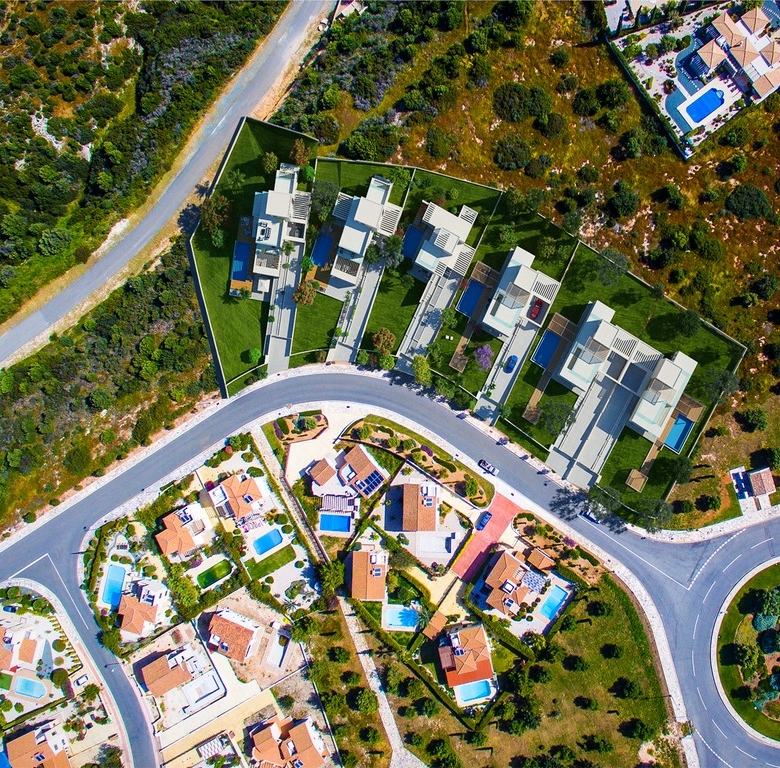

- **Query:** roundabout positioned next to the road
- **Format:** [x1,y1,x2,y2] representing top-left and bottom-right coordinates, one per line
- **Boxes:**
[711,557,780,746]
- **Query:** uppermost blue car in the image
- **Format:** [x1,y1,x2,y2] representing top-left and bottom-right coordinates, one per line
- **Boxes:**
[503,354,518,374]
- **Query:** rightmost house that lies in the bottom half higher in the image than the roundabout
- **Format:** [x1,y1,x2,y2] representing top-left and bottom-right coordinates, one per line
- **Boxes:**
[727,464,778,496]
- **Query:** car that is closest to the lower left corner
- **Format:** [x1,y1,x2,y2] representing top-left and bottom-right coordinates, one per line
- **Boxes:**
[71,673,91,687]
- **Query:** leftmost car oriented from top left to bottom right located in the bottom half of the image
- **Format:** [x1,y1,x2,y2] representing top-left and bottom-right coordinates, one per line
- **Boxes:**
[477,459,500,477]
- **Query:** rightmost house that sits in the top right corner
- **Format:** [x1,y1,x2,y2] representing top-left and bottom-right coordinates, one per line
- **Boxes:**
[685,7,780,101]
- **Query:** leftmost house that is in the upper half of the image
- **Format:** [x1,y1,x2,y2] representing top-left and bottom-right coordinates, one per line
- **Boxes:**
[252,162,313,293]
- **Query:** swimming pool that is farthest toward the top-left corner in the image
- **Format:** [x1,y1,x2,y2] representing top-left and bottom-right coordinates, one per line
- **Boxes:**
[230,240,251,282]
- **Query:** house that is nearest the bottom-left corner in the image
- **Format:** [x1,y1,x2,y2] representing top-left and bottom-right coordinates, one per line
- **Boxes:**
[7,714,77,768]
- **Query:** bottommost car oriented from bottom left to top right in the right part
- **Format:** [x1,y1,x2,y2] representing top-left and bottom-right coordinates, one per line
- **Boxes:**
[475,509,493,531]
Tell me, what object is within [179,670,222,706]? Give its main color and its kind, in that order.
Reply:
white swimming pool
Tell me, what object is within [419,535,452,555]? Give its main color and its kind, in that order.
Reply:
white swimming pool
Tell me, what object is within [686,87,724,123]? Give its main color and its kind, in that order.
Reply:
blue swimming pool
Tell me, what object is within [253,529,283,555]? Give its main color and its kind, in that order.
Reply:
blue swimming pool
